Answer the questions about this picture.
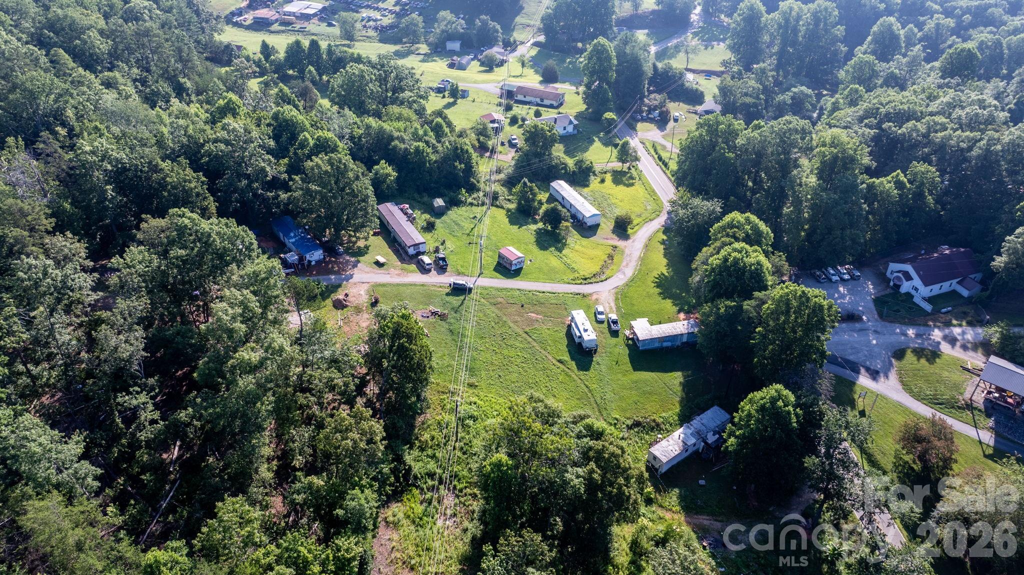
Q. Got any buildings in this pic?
Yes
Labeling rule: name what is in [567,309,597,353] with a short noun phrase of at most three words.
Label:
trailer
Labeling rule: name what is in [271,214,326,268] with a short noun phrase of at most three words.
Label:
house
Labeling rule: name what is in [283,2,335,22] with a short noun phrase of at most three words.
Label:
barn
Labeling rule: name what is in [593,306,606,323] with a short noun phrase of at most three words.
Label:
vehicle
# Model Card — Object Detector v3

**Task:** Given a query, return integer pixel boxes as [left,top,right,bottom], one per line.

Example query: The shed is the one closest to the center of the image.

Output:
[497,244,525,268]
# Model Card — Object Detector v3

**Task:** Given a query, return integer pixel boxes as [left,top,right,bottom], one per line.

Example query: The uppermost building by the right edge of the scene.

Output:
[883,248,997,298]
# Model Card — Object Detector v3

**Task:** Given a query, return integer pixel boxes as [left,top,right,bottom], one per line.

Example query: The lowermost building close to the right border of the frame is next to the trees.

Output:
[971,353,1024,411]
